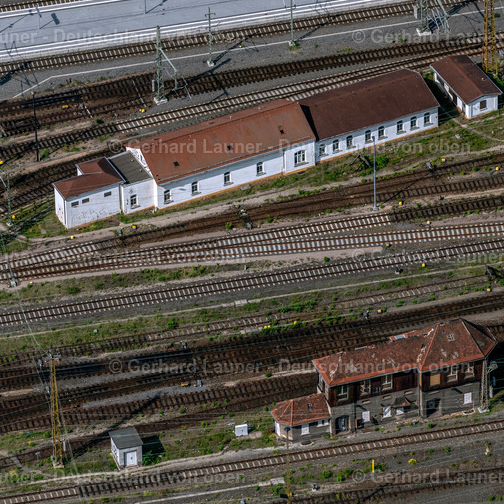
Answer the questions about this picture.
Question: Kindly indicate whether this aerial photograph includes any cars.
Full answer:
No, there isn't any car down there.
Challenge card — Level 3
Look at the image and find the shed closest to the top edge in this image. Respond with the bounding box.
[426,55,504,118]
